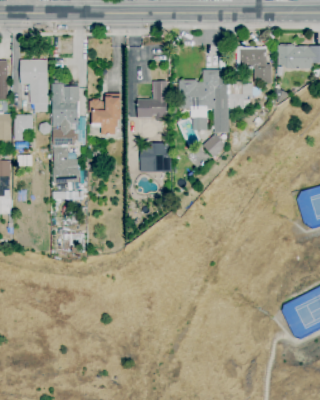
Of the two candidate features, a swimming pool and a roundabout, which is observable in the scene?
swimming pool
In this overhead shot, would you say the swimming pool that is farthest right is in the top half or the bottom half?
top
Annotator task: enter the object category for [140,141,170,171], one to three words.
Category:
house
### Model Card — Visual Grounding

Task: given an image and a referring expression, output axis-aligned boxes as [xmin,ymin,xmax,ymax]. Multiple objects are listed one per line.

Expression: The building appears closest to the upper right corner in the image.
[278,44,320,68]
